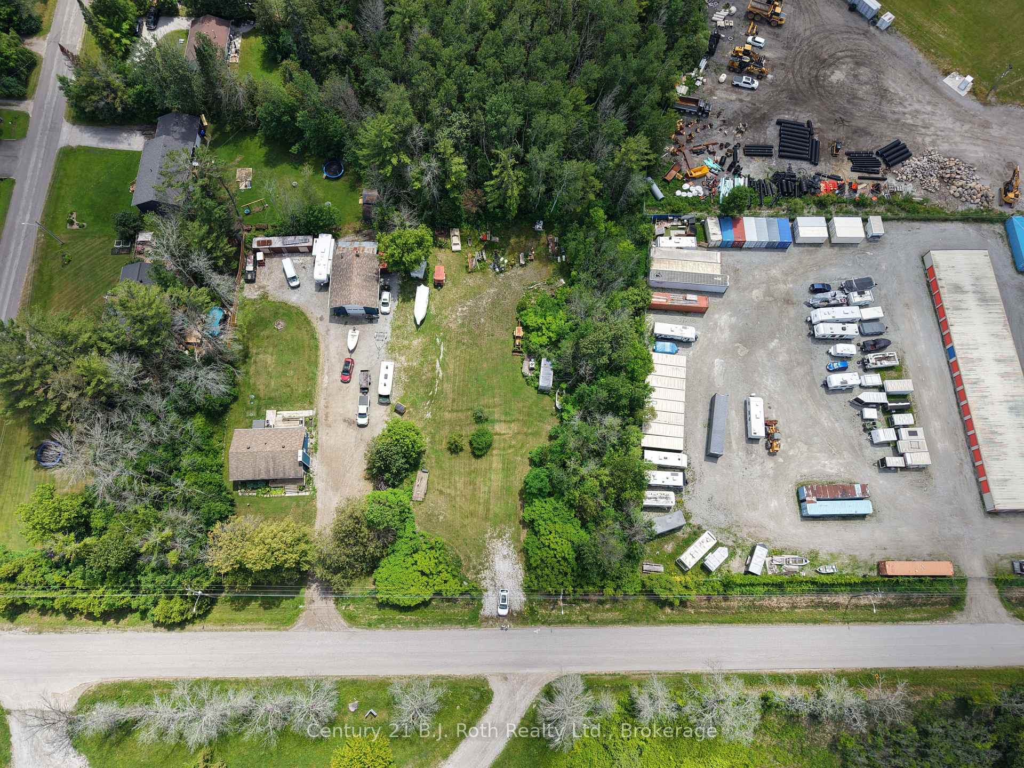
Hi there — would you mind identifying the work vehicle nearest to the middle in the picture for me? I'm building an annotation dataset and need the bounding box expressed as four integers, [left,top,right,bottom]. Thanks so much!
[512,321,524,355]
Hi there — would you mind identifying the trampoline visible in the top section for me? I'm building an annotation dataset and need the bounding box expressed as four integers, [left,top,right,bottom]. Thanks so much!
[324,161,342,178]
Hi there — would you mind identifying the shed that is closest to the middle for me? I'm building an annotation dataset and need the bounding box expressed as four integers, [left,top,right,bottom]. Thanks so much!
[539,359,554,390]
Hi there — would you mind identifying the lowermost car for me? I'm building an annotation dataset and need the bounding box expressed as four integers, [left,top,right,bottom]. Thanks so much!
[497,589,509,617]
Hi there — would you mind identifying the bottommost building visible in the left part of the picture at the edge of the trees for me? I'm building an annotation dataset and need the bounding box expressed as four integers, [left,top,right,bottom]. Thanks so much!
[229,427,316,496]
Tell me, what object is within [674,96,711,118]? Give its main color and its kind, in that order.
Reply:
black truck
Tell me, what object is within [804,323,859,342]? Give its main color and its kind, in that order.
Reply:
white trailer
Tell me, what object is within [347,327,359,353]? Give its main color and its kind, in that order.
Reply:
white boat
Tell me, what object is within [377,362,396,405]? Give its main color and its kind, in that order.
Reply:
white camper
